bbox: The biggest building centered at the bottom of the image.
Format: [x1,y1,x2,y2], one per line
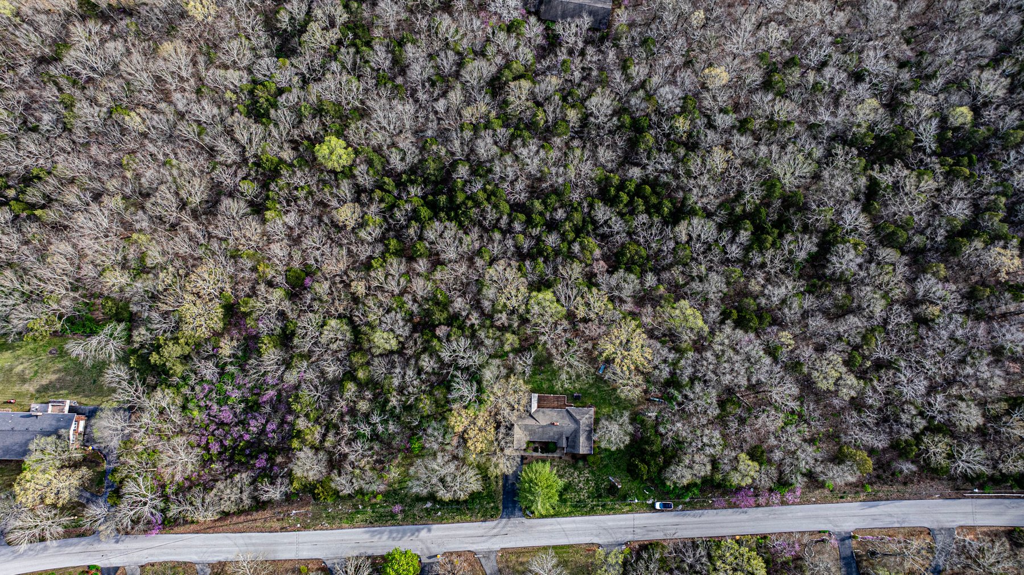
[513,393,594,457]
